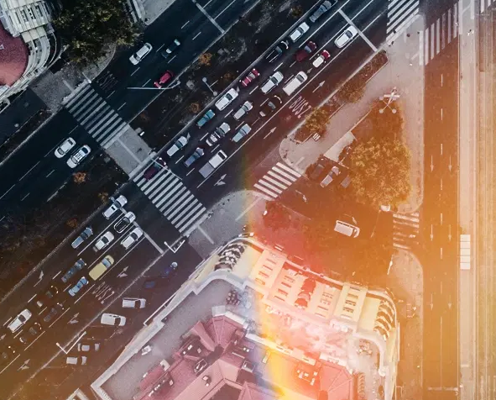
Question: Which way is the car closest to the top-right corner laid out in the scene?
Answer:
on a diagonal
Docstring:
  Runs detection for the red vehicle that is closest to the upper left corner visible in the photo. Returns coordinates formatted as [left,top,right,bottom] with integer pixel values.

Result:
[153,68,175,89]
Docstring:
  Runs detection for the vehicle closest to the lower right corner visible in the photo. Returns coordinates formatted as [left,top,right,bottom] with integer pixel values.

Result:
[334,219,362,237]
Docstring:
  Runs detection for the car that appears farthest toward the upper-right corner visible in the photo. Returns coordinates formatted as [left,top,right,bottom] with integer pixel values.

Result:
[335,26,357,48]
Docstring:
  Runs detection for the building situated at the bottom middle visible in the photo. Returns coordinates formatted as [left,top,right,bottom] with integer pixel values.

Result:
[66,236,399,400]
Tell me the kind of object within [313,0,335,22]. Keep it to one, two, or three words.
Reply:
car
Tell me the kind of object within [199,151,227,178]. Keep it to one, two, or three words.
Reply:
truck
